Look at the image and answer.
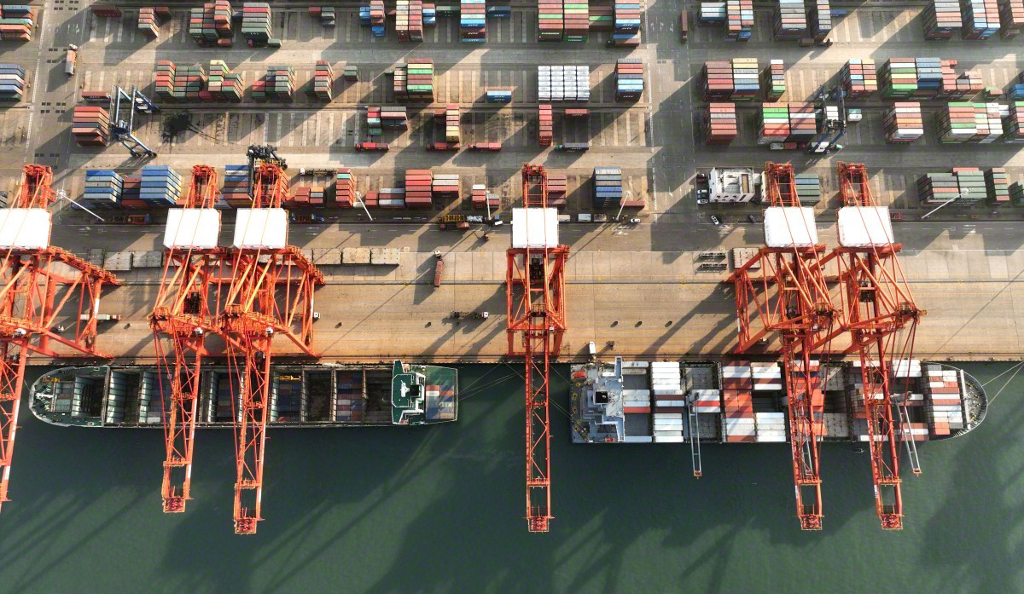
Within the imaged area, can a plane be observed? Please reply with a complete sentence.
No, no plane can be seen from above.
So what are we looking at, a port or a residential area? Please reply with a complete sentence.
This looks like a port.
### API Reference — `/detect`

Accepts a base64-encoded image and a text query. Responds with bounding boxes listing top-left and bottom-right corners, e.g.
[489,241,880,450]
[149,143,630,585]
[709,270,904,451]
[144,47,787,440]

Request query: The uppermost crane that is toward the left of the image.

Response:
[111,86,162,155]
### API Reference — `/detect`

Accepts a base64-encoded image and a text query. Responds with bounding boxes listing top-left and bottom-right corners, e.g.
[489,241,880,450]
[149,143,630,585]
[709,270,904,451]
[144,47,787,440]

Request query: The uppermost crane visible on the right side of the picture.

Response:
[805,81,848,152]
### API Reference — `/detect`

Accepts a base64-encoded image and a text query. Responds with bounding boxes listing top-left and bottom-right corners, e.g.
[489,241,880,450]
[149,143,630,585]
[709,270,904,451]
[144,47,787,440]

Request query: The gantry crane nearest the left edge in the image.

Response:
[0,164,125,517]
